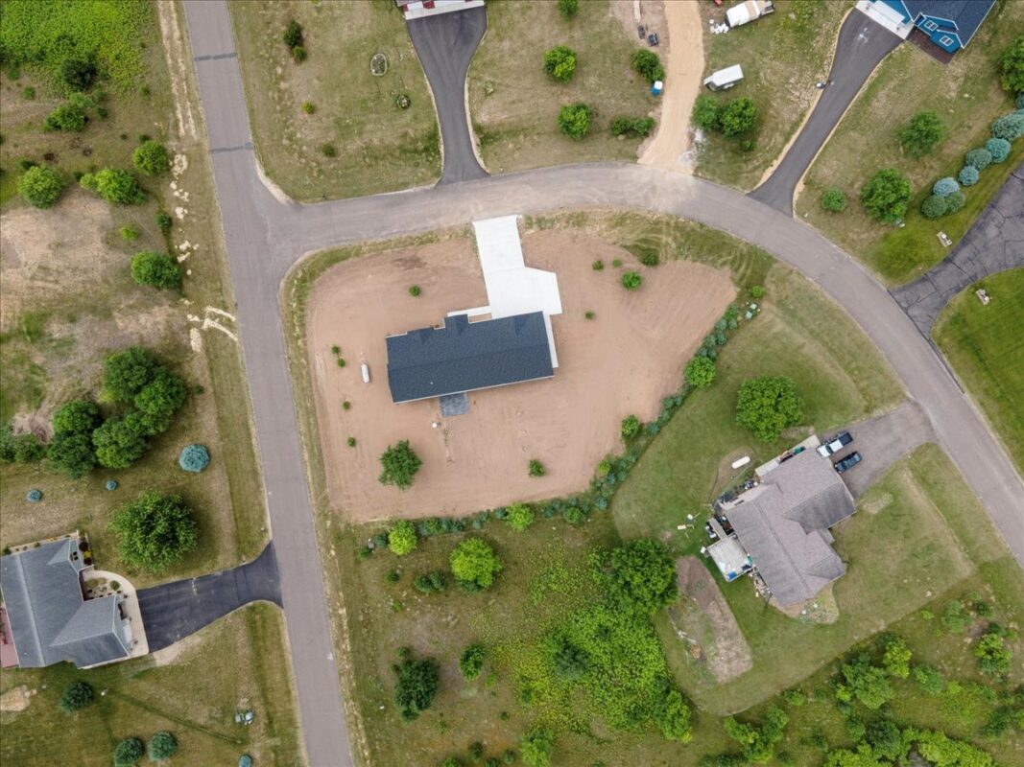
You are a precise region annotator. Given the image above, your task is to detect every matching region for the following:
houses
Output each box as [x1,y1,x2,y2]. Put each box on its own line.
[394,0,488,16]
[385,310,553,403]
[725,446,855,603]
[0,537,137,669]
[858,0,994,56]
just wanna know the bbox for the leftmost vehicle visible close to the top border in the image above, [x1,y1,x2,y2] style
[646,32,659,49]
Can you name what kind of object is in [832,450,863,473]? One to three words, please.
car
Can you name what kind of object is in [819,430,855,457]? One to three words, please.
truck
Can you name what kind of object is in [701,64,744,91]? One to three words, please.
trailer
